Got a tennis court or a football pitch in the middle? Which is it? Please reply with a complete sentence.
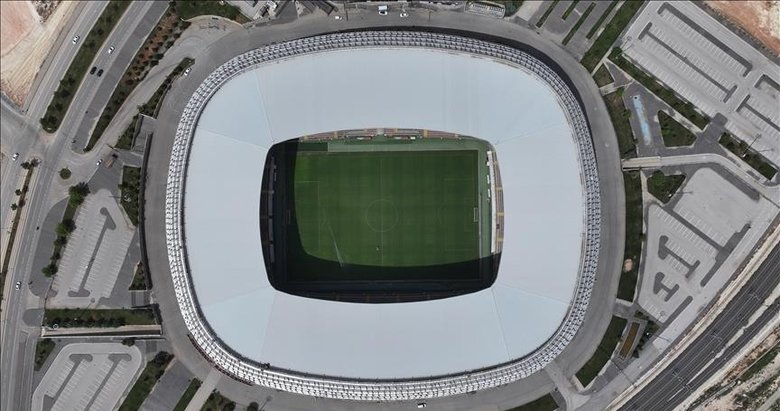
The feature located in the middle is a football pitch.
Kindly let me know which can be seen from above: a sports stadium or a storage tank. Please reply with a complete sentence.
It is a sports stadium that can be seen here.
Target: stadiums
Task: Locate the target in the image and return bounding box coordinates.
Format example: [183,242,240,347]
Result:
[167,31,599,401]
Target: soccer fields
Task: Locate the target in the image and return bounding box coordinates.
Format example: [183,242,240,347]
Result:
[265,133,498,297]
